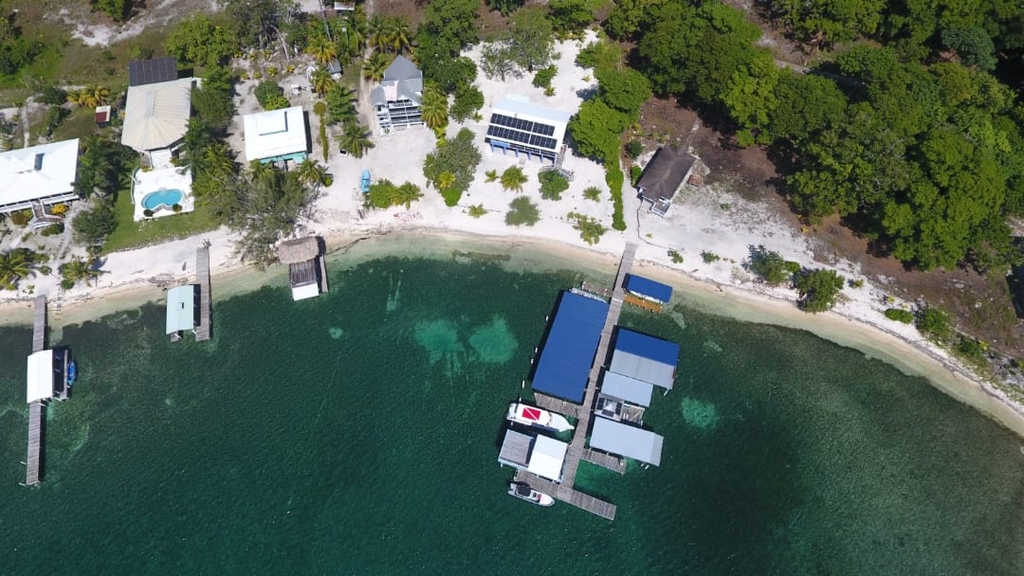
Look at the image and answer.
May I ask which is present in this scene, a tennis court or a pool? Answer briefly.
pool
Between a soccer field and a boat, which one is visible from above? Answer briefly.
boat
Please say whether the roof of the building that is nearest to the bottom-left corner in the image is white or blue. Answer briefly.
white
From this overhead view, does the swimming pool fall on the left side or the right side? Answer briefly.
left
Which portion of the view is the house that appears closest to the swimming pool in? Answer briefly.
top left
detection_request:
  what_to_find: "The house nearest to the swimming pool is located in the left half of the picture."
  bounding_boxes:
[122,57,204,170]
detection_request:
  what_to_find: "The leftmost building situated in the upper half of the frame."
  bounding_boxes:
[0,139,86,235]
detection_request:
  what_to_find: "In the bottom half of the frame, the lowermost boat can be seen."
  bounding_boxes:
[506,482,554,504]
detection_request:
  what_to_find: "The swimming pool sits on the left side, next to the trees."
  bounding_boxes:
[129,165,197,224]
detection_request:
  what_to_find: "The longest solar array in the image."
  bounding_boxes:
[490,111,552,146]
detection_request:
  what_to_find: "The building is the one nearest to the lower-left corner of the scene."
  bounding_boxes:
[27,350,77,413]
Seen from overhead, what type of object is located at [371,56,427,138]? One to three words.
house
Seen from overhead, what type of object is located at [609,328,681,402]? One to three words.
building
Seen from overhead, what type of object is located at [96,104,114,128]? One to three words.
shed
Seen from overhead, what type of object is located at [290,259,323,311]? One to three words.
building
